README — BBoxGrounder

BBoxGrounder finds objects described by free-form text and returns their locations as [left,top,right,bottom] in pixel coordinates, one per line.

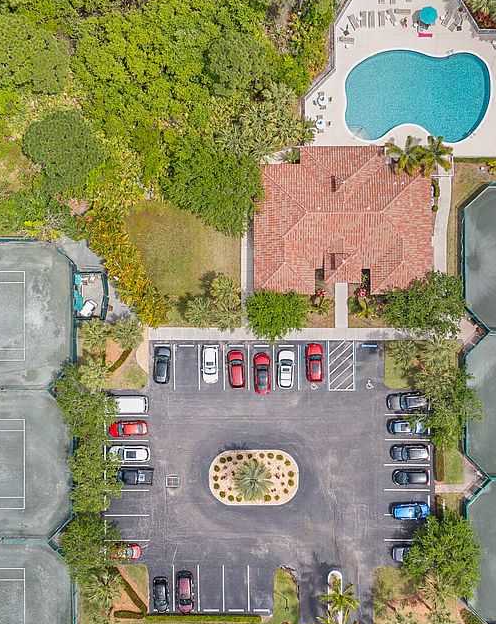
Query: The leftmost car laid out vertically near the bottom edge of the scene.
[152,575,170,613]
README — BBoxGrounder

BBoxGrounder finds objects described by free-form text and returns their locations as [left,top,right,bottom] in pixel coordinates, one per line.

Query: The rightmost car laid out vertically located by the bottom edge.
[175,570,194,612]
